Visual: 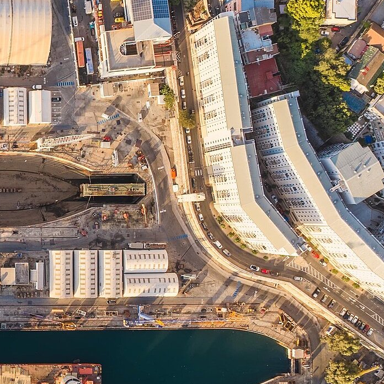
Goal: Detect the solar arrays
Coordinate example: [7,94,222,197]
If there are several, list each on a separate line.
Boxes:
[152,0,170,18]
[137,0,152,22]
